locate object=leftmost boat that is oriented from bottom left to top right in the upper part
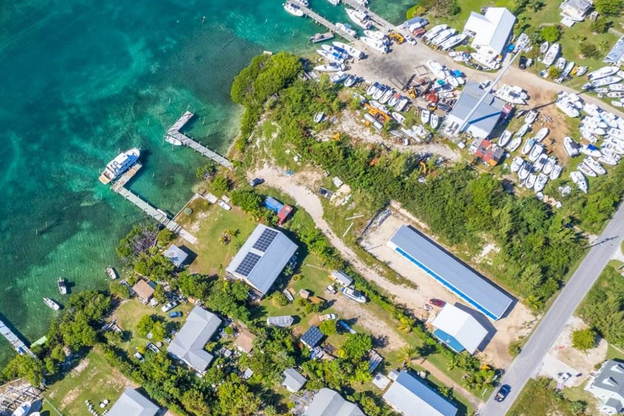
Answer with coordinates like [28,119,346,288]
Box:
[102,147,141,184]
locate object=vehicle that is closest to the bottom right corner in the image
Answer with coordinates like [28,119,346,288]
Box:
[492,385,510,404]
